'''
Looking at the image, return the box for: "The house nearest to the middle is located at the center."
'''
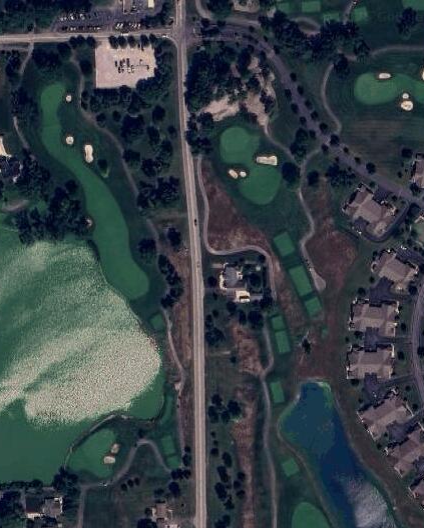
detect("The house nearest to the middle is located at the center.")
[223,265,242,288]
